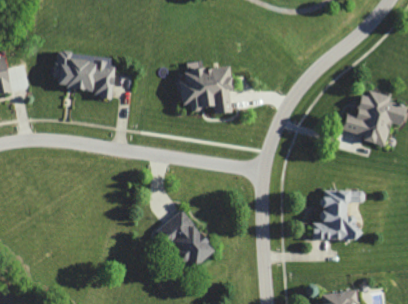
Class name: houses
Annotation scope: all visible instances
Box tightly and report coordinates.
[314,188,368,244]
[55,50,116,106]
[179,60,234,114]
[148,213,215,268]
[345,90,408,145]
[323,290,359,304]
[0,51,11,94]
